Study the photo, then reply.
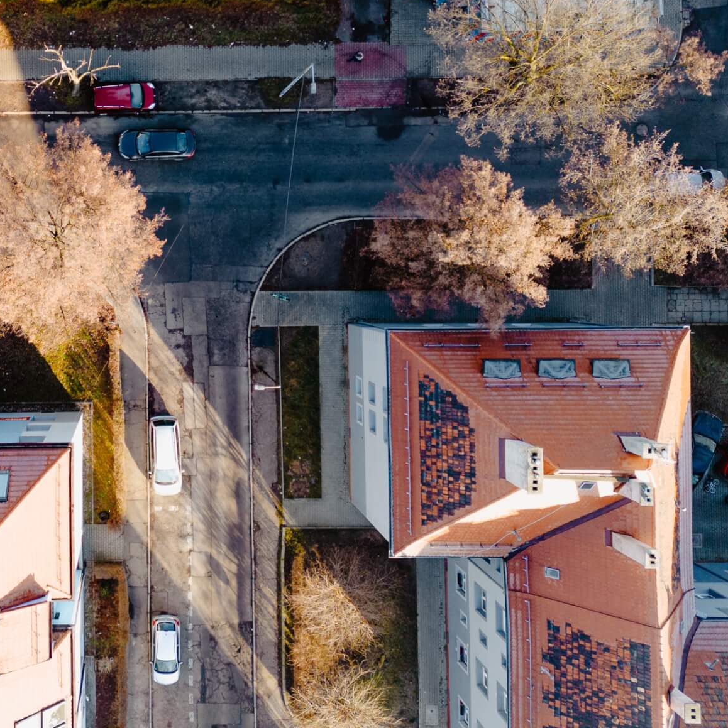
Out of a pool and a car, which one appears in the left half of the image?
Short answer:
car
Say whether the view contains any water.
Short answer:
No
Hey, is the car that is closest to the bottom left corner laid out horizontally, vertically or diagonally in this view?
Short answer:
vertically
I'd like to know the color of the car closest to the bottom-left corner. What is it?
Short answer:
white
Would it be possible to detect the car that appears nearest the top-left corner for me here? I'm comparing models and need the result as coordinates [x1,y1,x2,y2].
[94,80,157,114]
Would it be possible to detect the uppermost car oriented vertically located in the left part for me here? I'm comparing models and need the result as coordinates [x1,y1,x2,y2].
[150,413,185,494]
